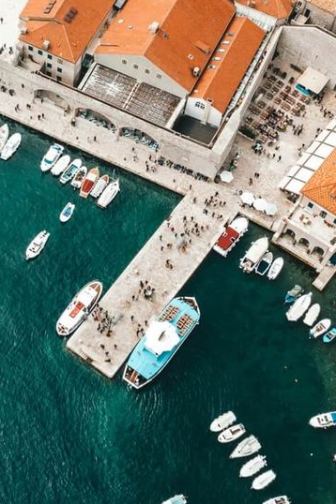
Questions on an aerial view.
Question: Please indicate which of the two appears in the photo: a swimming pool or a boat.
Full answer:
Visible in the photo is a boat.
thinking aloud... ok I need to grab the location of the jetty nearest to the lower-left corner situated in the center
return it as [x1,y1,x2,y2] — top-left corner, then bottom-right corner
[65,195,238,380]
